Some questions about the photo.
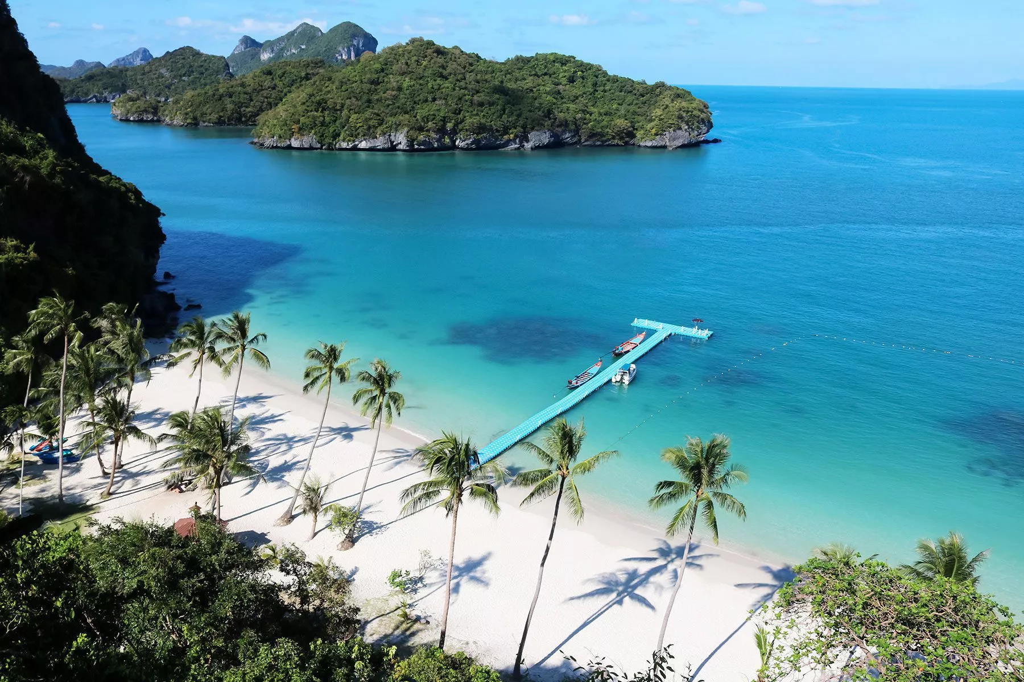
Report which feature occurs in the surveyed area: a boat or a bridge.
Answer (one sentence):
Looking from above, you can make out a boat.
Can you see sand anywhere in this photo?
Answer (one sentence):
Yes, there is sand in the image.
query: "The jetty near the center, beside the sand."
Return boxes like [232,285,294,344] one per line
[465,318,712,468]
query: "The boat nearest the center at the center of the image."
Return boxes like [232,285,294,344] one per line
[561,356,602,391]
